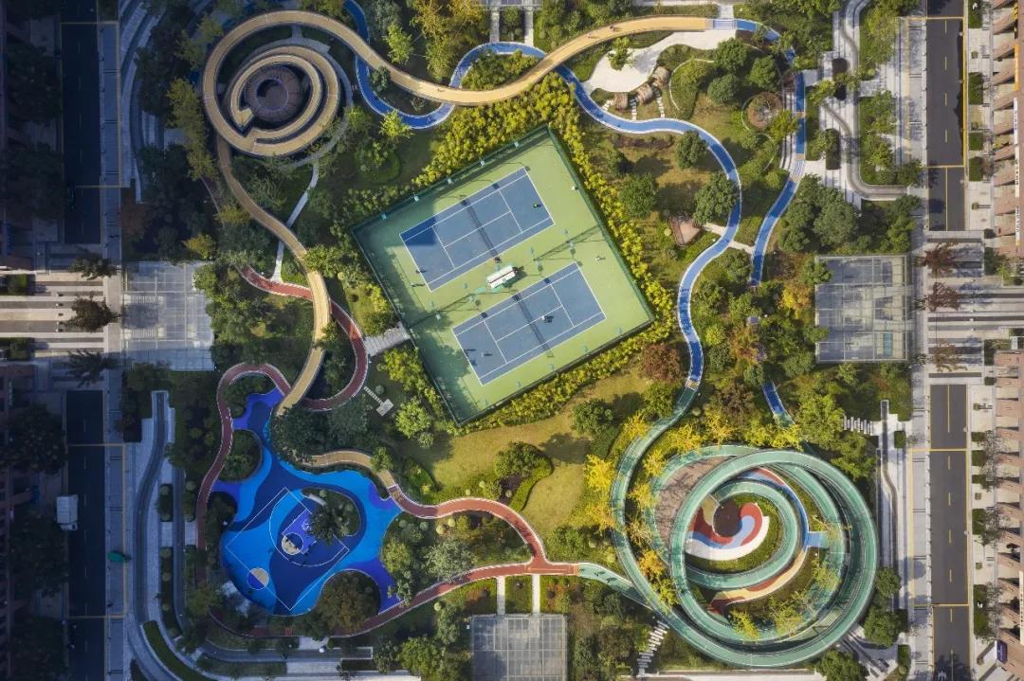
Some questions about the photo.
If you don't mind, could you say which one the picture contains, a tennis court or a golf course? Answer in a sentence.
Visible in the photo is a tennis court.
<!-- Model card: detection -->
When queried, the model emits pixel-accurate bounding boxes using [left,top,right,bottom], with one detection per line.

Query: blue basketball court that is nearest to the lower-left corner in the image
[207,389,404,616]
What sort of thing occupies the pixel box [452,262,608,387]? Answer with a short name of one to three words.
tennis court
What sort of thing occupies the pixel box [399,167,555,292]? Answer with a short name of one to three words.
tennis court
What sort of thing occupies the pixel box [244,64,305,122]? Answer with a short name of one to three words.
building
